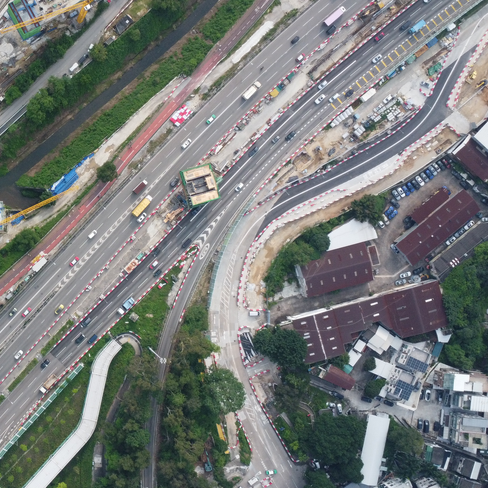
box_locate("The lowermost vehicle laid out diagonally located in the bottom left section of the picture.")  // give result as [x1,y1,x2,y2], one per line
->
[39,374,58,393]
